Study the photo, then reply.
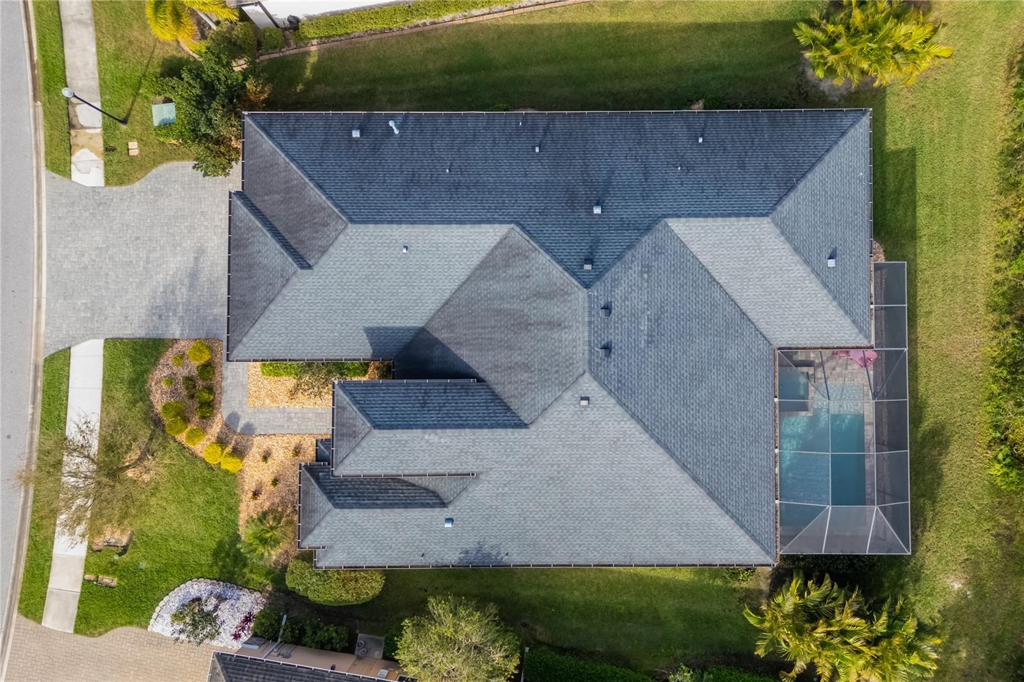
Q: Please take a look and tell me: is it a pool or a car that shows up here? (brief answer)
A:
pool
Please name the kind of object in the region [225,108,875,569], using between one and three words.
house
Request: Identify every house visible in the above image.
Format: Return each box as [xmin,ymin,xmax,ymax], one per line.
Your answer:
[225,108,875,569]
[206,615,440,682]
[229,0,411,30]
